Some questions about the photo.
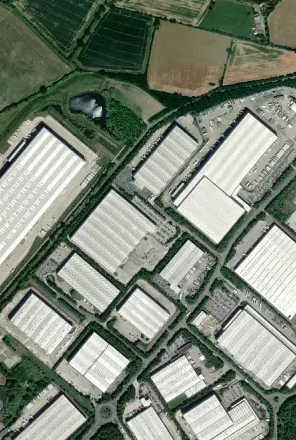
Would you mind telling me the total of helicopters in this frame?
zero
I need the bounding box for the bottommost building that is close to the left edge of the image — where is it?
[14,395,87,440]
